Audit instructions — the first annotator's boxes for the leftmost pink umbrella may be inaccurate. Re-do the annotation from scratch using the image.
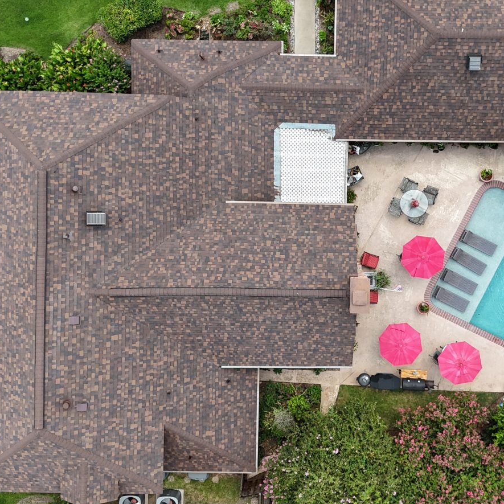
[377,320,421,364]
